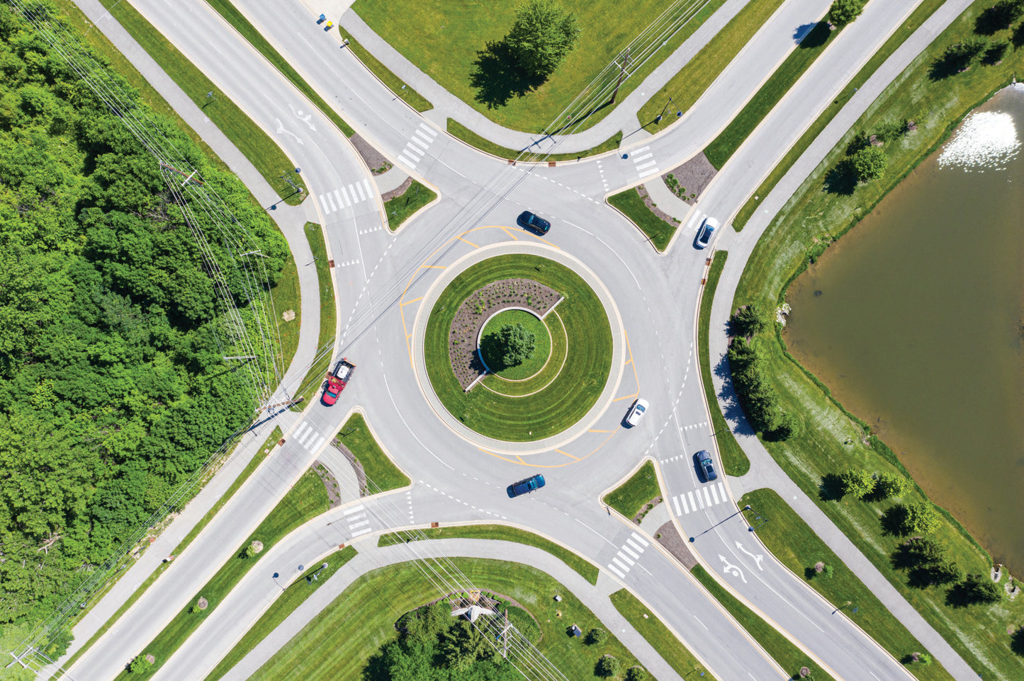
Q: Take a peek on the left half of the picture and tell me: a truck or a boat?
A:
truck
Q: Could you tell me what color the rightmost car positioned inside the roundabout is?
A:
white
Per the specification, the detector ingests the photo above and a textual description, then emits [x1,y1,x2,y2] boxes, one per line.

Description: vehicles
[511,476,547,497]
[697,216,719,248]
[521,211,552,232]
[627,398,650,427]
[698,450,719,483]
[322,360,354,405]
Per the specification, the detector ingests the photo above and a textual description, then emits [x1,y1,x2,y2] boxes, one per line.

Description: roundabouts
[366,195,672,501]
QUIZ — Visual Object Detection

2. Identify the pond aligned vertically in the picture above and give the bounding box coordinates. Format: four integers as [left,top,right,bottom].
[787,89,1024,578]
